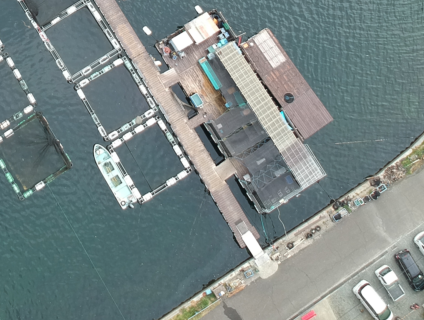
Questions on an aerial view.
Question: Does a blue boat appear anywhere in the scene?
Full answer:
No, this view has no blue boat in it.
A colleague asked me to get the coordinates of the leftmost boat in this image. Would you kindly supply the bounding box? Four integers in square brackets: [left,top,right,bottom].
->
[96,144,136,209]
